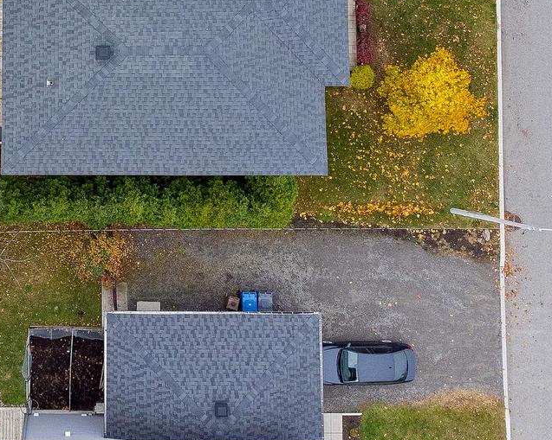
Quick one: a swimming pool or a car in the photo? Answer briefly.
car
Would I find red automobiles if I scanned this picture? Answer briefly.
No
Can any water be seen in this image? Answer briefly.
No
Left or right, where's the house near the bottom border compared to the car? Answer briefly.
to the left of it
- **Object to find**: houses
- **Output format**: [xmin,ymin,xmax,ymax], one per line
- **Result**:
[0,0,352,176]
[24,307,324,440]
